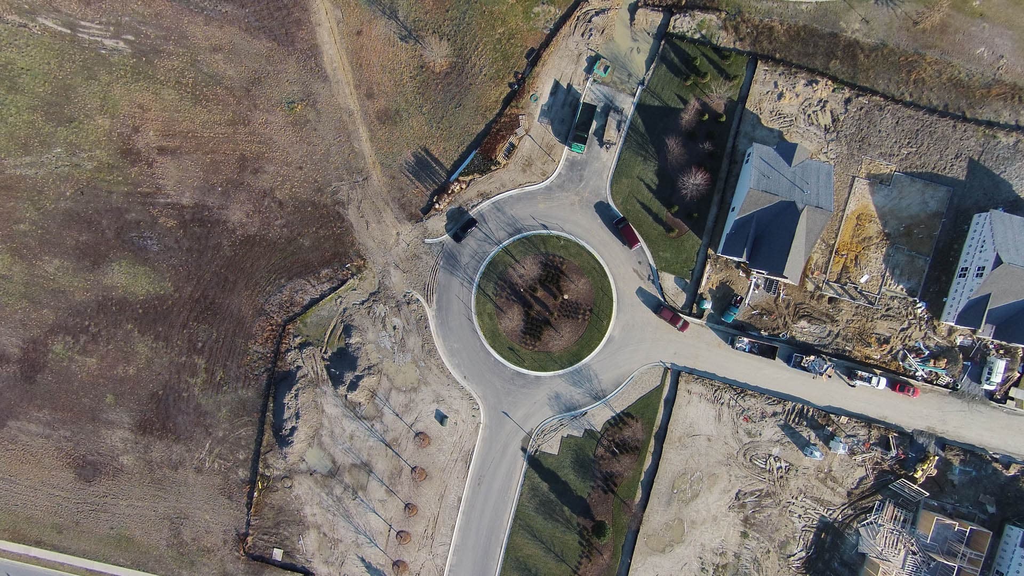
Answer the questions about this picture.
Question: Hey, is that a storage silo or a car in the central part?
car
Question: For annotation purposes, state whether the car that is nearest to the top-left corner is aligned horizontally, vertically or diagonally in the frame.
diagonally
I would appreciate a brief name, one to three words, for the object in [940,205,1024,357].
house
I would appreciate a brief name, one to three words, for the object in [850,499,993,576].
house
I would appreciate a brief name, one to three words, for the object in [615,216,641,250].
truck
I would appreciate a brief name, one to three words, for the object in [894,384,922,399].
car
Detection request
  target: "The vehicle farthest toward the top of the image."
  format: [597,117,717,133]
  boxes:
[594,56,612,83]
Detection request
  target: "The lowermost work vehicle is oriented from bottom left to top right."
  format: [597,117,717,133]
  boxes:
[912,447,947,481]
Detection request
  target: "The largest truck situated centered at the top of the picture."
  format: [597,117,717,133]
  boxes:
[568,98,598,155]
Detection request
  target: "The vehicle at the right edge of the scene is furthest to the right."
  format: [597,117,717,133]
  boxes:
[981,352,1006,387]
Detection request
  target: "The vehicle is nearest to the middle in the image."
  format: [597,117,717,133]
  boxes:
[451,215,478,243]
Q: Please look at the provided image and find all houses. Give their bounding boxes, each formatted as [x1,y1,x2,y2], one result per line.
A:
[940,205,1024,357]
[850,499,993,576]
[715,137,835,290]
[991,525,1024,576]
